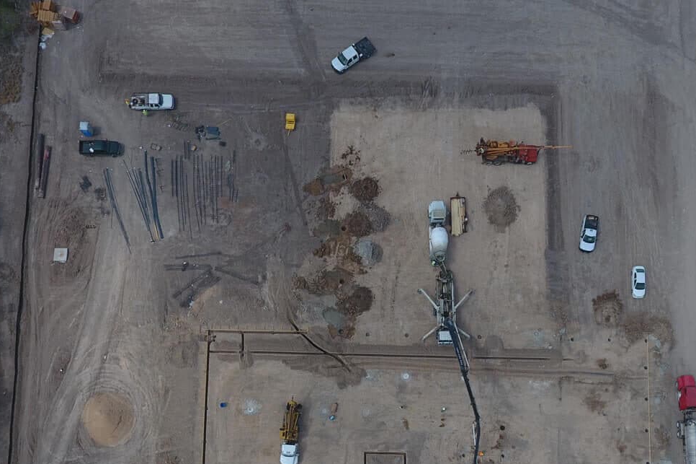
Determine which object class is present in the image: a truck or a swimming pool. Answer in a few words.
truck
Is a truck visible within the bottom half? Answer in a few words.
Yes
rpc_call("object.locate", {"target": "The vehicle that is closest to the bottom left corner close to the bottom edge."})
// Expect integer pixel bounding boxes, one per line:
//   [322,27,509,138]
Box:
[277,390,298,464]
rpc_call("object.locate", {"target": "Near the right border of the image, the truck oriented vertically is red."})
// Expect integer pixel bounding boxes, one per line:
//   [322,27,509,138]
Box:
[671,374,696,439]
